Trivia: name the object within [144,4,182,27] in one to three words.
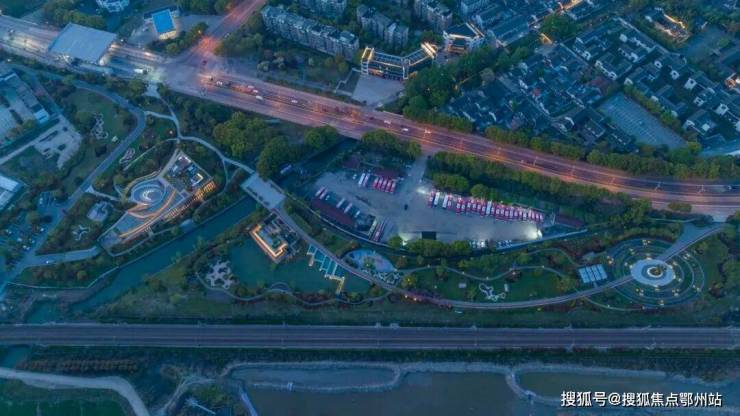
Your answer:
building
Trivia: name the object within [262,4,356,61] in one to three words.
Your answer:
building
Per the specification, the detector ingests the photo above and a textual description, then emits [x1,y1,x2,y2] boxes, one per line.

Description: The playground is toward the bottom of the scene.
[342,247,396,274]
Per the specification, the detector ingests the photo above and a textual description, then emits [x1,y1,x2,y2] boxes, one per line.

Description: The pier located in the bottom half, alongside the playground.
[306,245,345,298]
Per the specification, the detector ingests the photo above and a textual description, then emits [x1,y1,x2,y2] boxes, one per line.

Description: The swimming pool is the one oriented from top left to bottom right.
[309,248,343,277]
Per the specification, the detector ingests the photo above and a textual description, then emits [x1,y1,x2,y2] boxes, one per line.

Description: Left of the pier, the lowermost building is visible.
[249,210,298,262]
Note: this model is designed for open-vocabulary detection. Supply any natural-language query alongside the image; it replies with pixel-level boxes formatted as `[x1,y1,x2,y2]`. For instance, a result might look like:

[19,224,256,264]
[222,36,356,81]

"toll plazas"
[48,22,118,68]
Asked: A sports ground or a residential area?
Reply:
residential area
